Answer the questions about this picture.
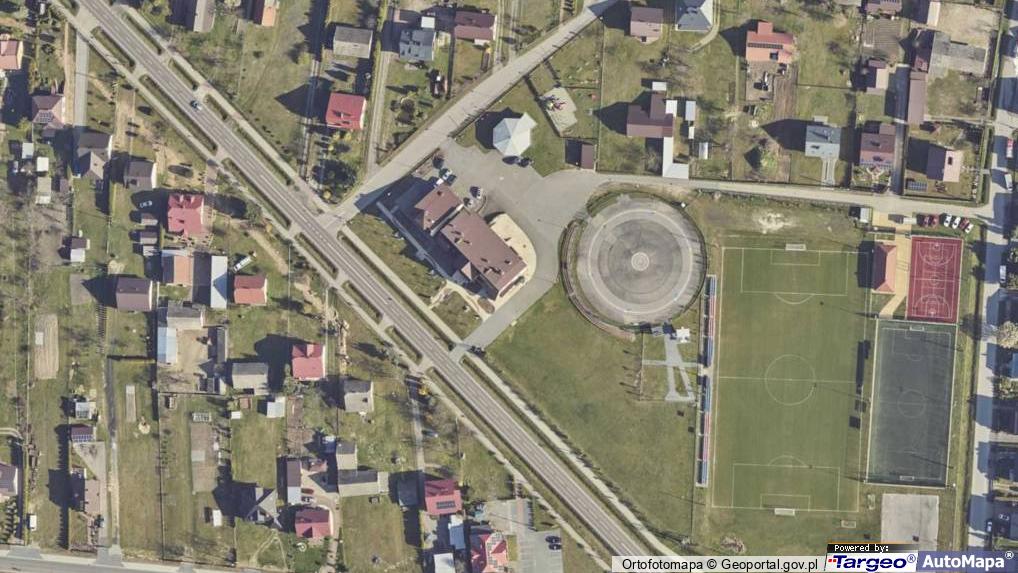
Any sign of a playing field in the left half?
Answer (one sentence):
No, the scene shows no playing field in the left half.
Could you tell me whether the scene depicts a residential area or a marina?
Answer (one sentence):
The picture captures a residential area.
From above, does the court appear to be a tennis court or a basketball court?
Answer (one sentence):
I'd say the court is a basketball court.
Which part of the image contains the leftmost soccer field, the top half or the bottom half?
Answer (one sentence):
Seen from above, the leftmost soccer field lies in the bottom half of the view.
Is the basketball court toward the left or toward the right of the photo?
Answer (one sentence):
The basketball court sits on the right side.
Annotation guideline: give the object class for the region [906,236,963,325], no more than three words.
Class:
basketball court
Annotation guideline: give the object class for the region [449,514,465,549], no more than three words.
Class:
shed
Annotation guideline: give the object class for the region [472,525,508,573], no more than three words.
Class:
house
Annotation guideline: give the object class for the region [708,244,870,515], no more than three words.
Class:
soccer field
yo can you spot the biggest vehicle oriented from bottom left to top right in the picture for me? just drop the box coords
[232,256,254,274]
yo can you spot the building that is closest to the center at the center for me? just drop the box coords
[412,182,526,290]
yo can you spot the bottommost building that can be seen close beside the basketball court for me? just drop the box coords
[873,242,897,293]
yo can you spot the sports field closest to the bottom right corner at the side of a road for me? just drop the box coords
[869,320,957,486]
